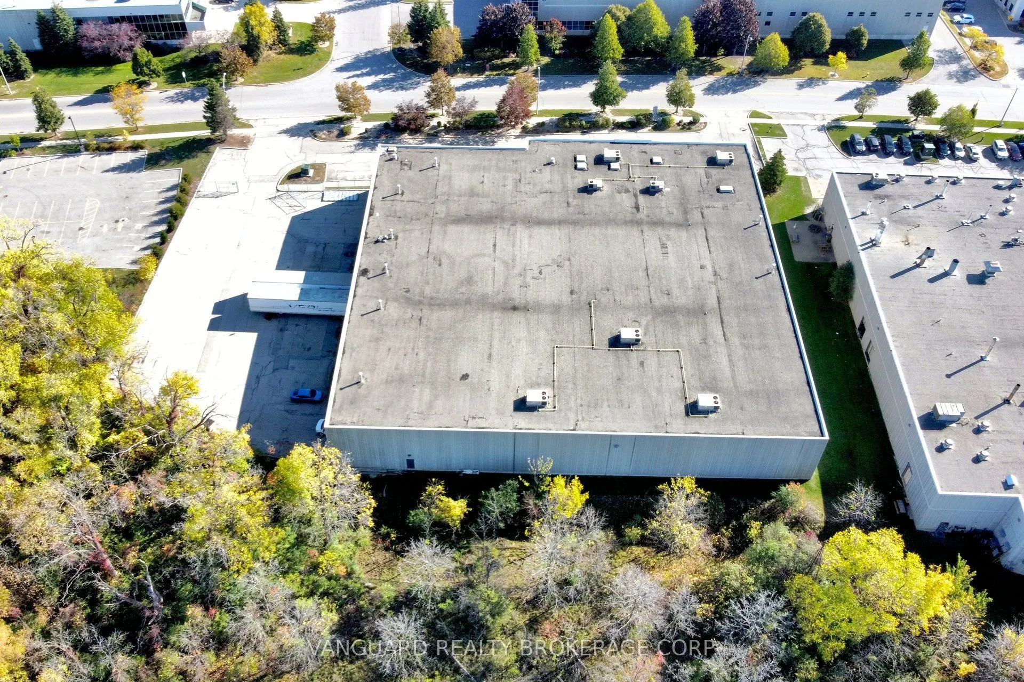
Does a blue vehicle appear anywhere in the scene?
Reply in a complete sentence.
Yes, you can see a blue vehicle in this photo.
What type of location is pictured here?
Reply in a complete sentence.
This image shows an industrial area.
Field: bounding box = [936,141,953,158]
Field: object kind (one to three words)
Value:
car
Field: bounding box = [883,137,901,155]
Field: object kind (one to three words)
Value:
car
